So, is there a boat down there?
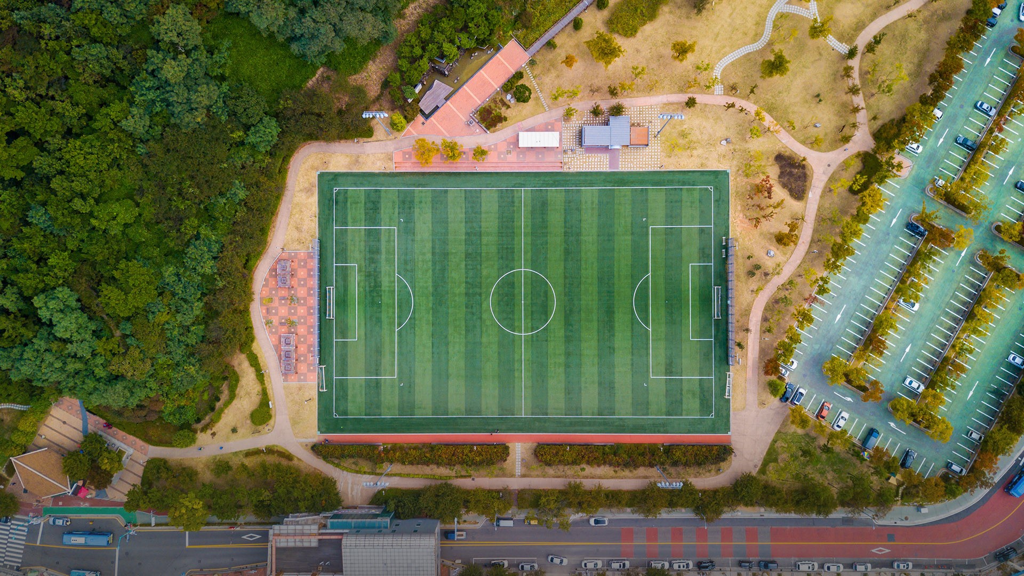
No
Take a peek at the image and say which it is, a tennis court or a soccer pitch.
soccer pitch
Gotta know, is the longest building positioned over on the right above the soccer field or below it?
above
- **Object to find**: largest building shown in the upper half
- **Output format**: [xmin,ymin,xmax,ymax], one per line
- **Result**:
[580,116,650,150]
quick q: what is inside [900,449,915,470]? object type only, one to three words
car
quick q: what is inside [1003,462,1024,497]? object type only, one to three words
bus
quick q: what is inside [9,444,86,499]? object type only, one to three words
building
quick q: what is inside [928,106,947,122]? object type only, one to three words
vehicle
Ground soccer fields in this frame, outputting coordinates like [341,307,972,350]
[317,170,731,435]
